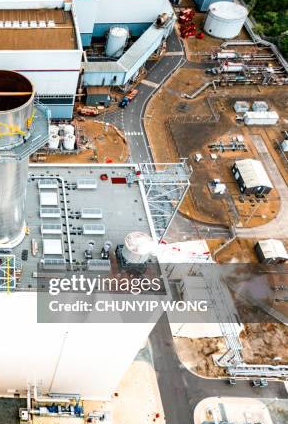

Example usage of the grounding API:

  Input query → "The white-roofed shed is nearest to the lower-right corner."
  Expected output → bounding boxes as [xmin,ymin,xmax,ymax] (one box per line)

[252,238,288,267]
